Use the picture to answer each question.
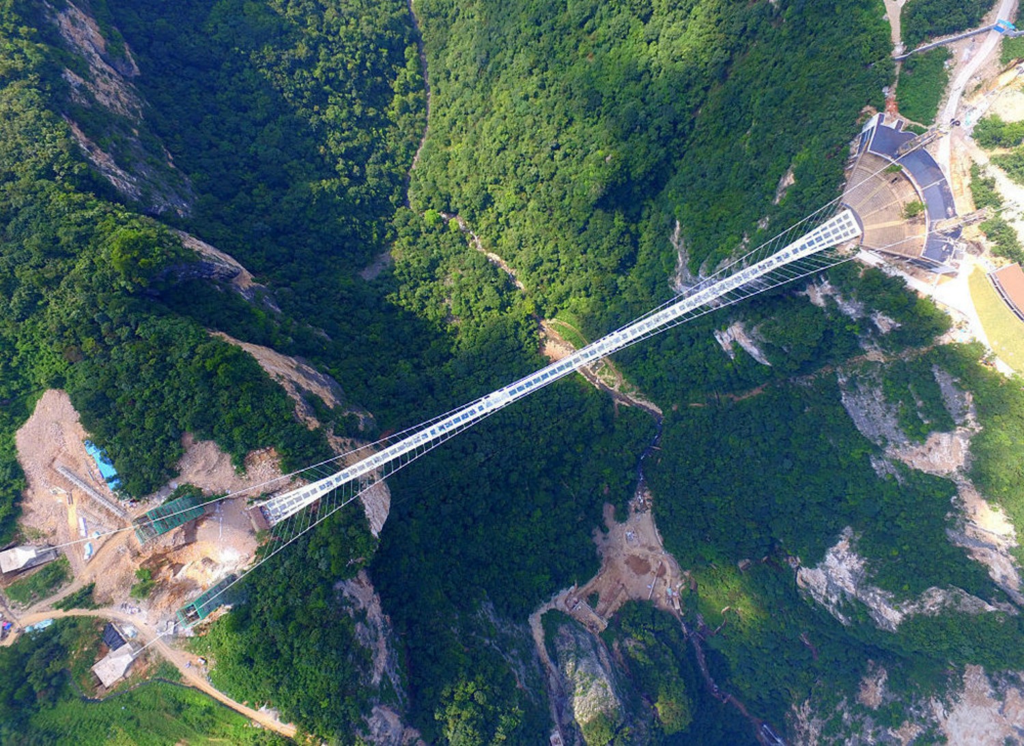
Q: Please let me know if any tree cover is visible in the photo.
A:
Yes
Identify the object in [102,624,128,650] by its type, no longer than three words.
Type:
shed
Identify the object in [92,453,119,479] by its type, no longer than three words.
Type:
shed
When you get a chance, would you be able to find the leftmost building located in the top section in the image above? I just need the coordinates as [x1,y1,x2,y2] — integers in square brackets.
[834,112,955,277]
